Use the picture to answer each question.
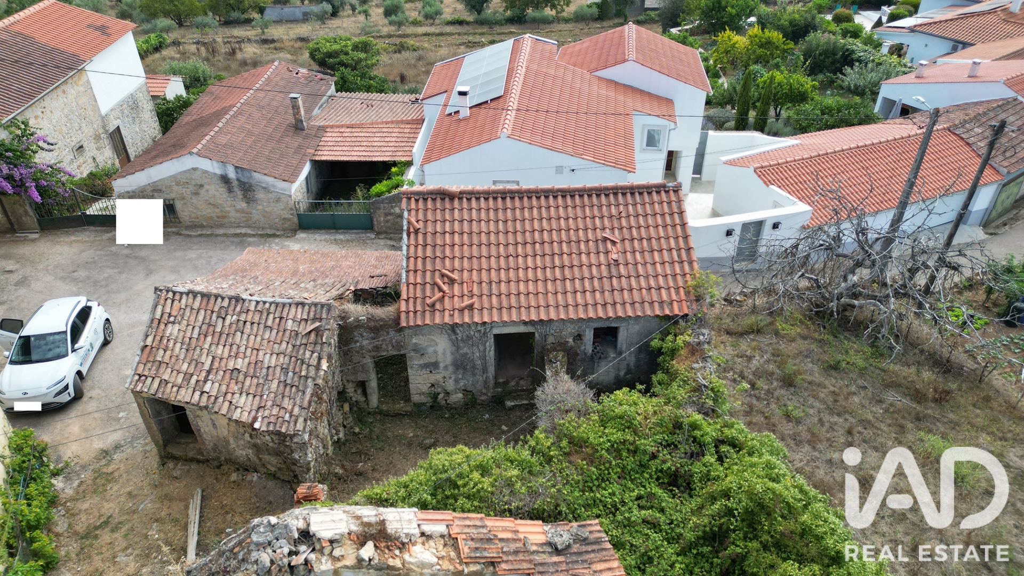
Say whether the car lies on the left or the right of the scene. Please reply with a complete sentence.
It is on the left.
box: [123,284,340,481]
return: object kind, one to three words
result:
shed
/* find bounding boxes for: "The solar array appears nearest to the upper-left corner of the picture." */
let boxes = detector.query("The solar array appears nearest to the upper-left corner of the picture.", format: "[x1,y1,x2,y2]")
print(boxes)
[445,34,515,111]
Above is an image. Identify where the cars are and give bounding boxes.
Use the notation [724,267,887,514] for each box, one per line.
[0,297,111,414]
